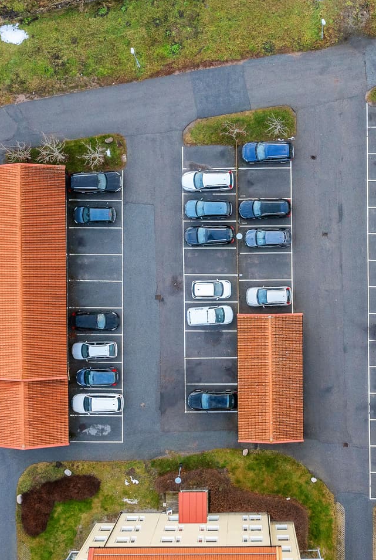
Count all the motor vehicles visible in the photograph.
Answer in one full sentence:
I count 16 motor vehicles.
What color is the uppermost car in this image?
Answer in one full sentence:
From above, the uppermost car appears blue.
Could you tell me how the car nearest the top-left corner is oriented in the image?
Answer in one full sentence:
In this picture, the car nearest the top-left corner lies from side to side.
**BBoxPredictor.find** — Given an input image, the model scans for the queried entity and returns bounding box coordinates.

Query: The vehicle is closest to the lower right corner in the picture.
[187,389,239,413]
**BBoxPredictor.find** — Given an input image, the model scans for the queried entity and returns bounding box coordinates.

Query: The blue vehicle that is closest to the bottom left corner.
[76,366,119,387]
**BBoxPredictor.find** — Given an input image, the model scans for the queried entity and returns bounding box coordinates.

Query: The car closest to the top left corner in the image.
[69,171,122,195]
